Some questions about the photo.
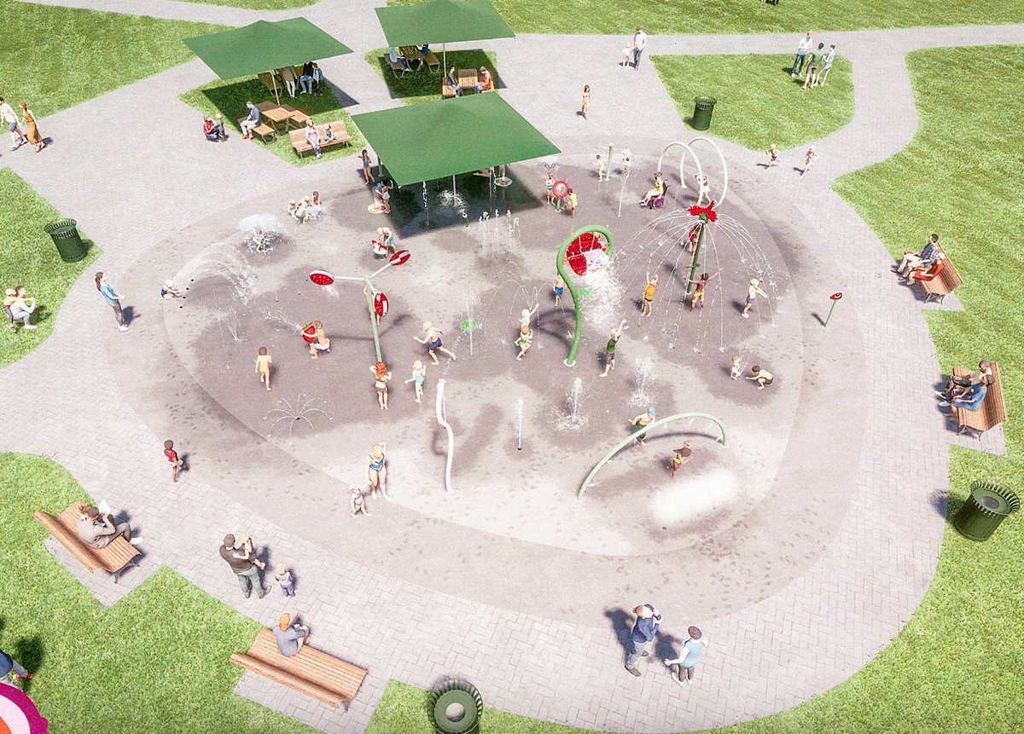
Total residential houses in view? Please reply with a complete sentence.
The photo contains no residential houses.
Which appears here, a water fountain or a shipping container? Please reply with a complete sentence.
There is a water fountain in the scene.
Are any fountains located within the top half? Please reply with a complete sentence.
Yes, a fountain can be seen within the top half.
